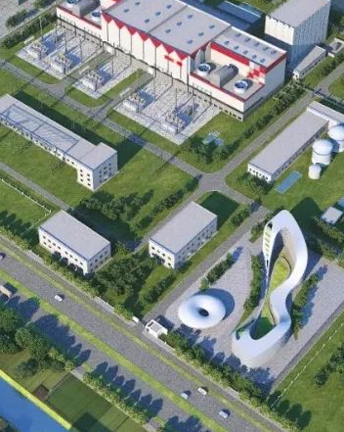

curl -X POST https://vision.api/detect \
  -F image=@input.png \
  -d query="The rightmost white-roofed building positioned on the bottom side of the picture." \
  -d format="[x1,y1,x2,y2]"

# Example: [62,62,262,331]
[229,211,308,367]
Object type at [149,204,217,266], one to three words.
building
